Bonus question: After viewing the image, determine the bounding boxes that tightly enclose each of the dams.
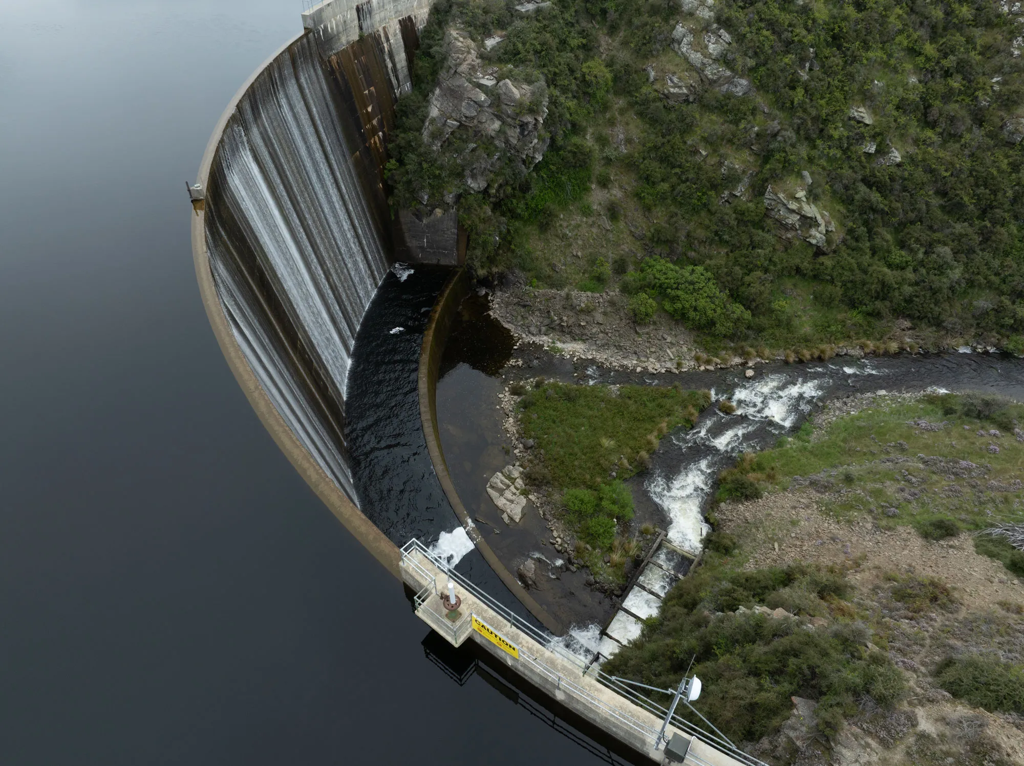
[192,0,758,766]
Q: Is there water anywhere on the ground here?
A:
Yes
